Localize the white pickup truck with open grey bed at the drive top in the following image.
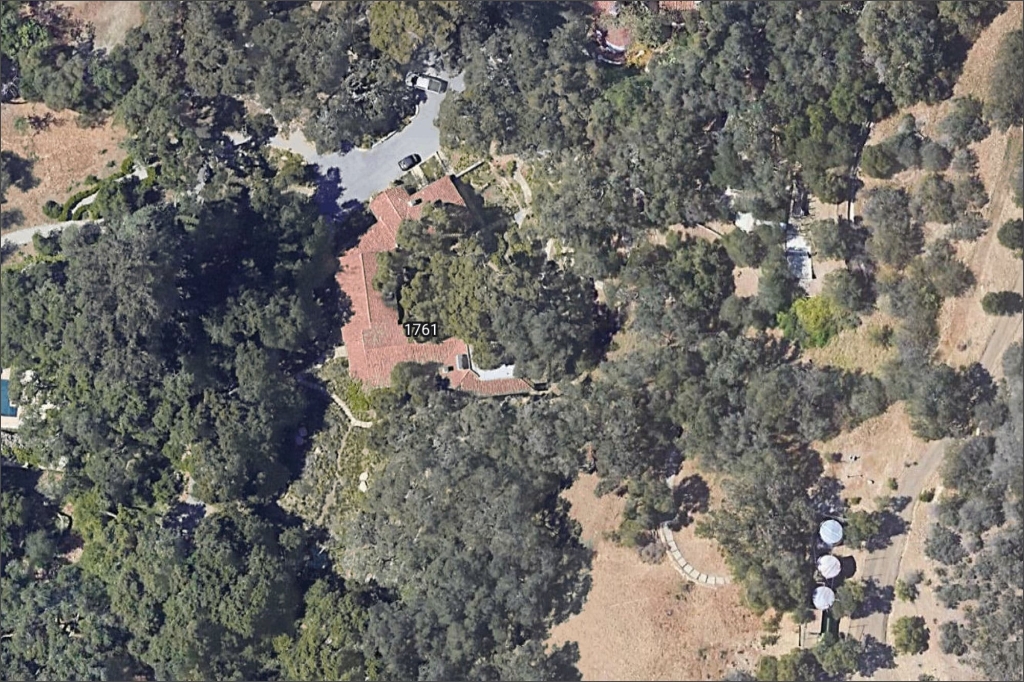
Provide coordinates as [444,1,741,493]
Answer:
[404,74,443,94]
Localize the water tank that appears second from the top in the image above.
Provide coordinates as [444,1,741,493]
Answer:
[815,555,841,580]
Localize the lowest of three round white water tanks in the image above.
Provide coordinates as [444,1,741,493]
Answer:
[810,585,835,609]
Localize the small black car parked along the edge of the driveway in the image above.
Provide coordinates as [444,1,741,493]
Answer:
[396,152,423,171]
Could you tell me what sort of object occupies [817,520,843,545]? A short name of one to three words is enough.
water tank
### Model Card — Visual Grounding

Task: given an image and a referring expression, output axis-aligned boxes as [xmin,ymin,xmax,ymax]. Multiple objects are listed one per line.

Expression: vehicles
[396,152,423,171]
[404,74,443,94]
